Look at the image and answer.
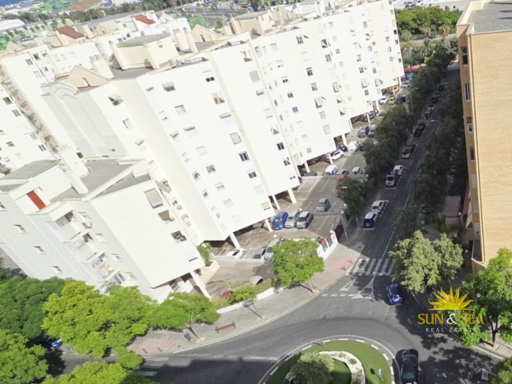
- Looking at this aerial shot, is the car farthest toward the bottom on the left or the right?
right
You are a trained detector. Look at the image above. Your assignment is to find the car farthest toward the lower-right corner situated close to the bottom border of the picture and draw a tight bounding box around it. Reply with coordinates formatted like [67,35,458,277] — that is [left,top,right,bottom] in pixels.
[396,353,422,384]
